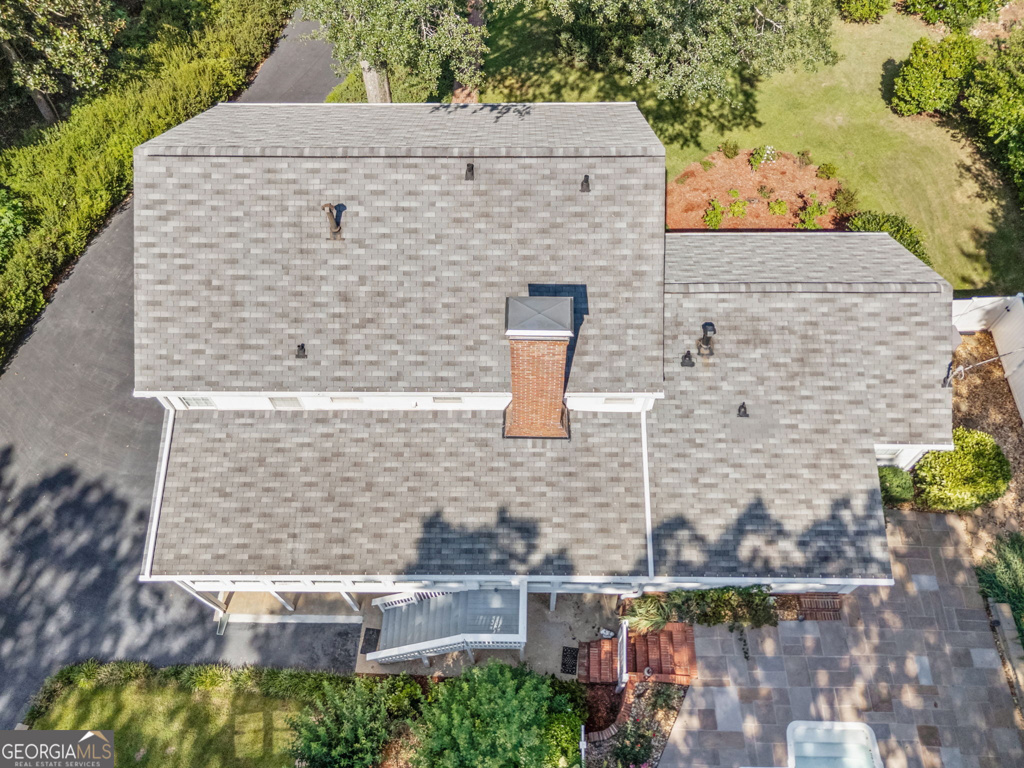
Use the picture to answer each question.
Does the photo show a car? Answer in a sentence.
No, there is no car in the image.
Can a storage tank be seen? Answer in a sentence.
No, no storage tank is visible in the view.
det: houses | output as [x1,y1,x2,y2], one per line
[132,101,964,620]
